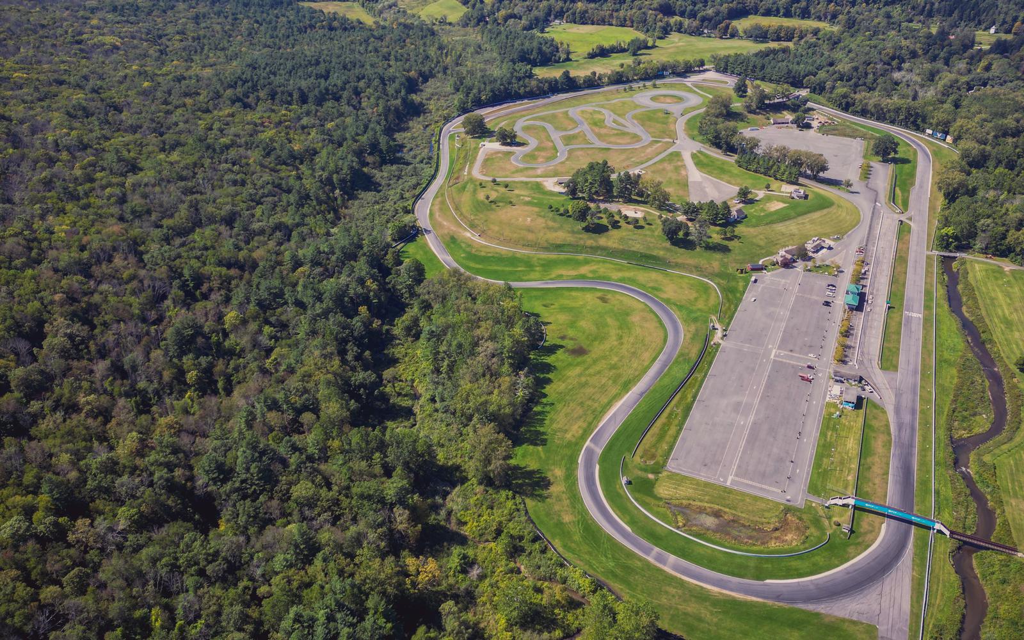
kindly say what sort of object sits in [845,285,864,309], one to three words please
building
